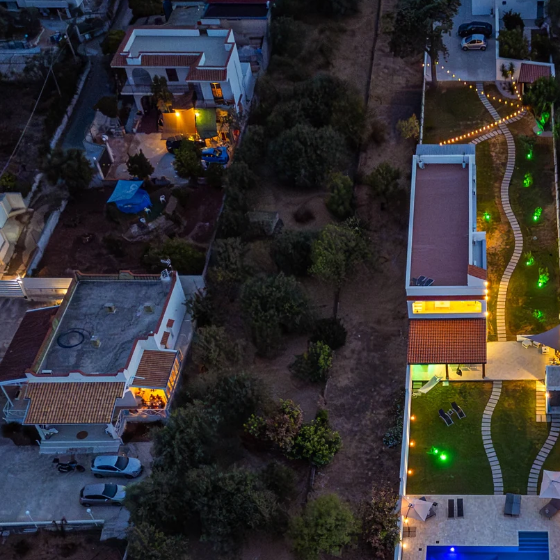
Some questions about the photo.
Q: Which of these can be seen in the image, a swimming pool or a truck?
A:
swimming pool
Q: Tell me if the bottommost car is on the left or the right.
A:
left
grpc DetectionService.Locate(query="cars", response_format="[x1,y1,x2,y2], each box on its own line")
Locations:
[199,146,234,165]
[456,22,496,39]
[459,35,488,52]
[88,455,141,480]
[77,483,132,508]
